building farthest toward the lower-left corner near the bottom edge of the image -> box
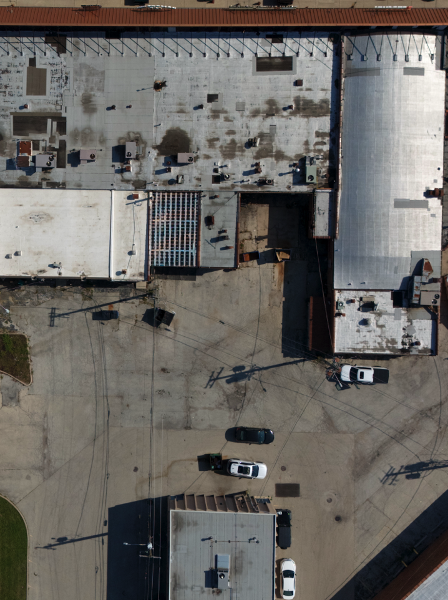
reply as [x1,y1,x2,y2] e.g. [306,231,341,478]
[166,490,279,600]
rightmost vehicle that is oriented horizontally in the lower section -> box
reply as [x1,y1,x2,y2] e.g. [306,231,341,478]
[339,364,389,385]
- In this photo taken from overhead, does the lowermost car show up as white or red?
white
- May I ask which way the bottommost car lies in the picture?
vertically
